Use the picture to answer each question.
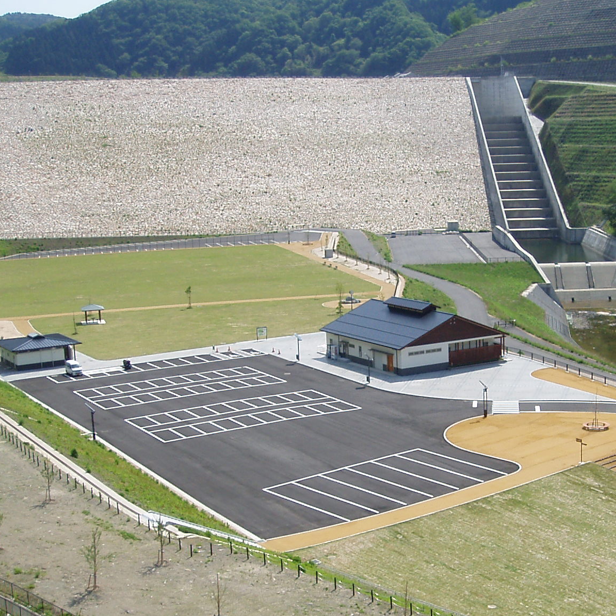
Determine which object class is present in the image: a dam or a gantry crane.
dam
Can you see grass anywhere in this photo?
Yes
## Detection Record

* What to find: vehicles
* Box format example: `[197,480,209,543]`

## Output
[122,359,134,369]
[65,356,87,375]
[389,232,396,238]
